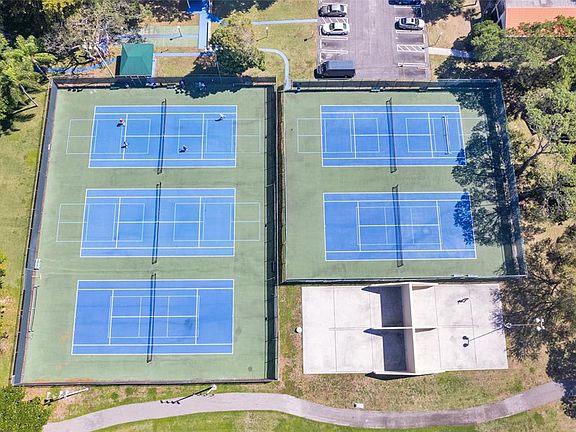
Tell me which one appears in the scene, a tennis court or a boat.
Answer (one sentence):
Visible in the photo is a tennis court.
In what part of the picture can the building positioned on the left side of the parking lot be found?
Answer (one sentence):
You can find the building positioned on the left side of the parking lot in the top left area of the picture.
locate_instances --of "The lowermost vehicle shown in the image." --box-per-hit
[318,59,356,76]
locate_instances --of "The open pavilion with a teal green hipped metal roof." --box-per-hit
[119,44,157,79]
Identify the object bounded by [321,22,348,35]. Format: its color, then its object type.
white vehicle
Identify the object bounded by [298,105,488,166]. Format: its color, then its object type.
blue tennis court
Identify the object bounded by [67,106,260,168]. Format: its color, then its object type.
blue tennis court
